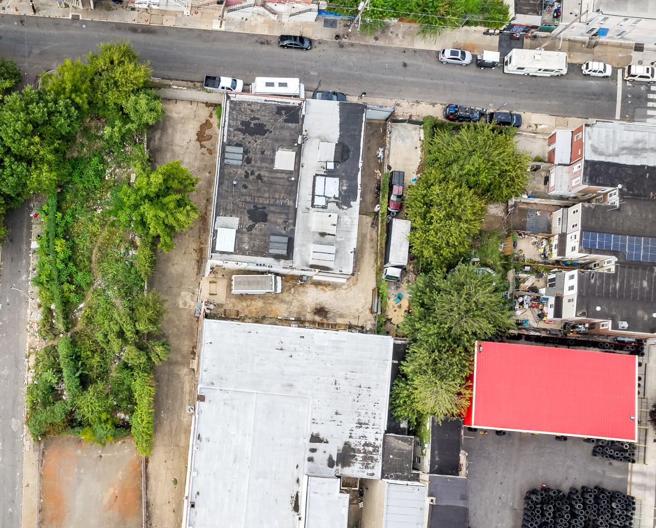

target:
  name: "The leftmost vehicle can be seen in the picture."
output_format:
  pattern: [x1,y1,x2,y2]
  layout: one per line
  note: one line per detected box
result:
[204,74,242,93]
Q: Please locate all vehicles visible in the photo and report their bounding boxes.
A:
[388,169,406,215]
[622,65,656,83]
[580,61,609,78]
[204,74,242,93]
[227,274,278,294]
[442,104,478,122]
[312,90,346,103]
[438,49,470,65]
[382,215,411,281]
[504,49,571,77]
[278,34,310,52]
[486,111,521,126]
[246,74,301,99]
